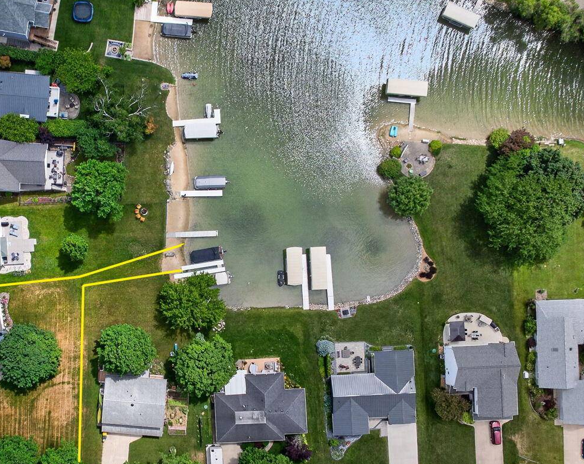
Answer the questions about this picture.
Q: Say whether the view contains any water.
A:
Yes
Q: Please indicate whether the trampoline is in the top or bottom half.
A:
top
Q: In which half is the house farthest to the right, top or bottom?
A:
bottom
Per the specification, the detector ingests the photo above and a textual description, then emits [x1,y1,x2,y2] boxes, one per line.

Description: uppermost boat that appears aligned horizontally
[161,24,194,38]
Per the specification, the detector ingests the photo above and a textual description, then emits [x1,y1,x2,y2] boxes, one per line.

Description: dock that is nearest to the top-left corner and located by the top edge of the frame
[150,2,193,25]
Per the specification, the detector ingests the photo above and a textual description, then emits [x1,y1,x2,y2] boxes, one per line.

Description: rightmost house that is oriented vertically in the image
[532,298,584,426]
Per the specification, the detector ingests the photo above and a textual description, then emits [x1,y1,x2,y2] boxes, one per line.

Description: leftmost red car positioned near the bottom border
[490,420,503,445]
